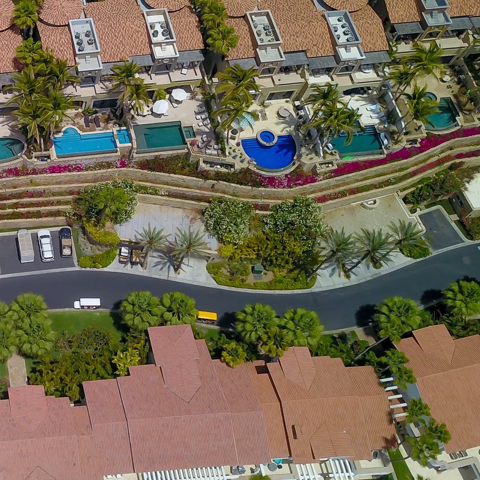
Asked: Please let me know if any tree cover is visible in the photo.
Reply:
Yes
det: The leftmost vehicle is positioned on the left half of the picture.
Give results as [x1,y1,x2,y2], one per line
[14,227,37,268]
